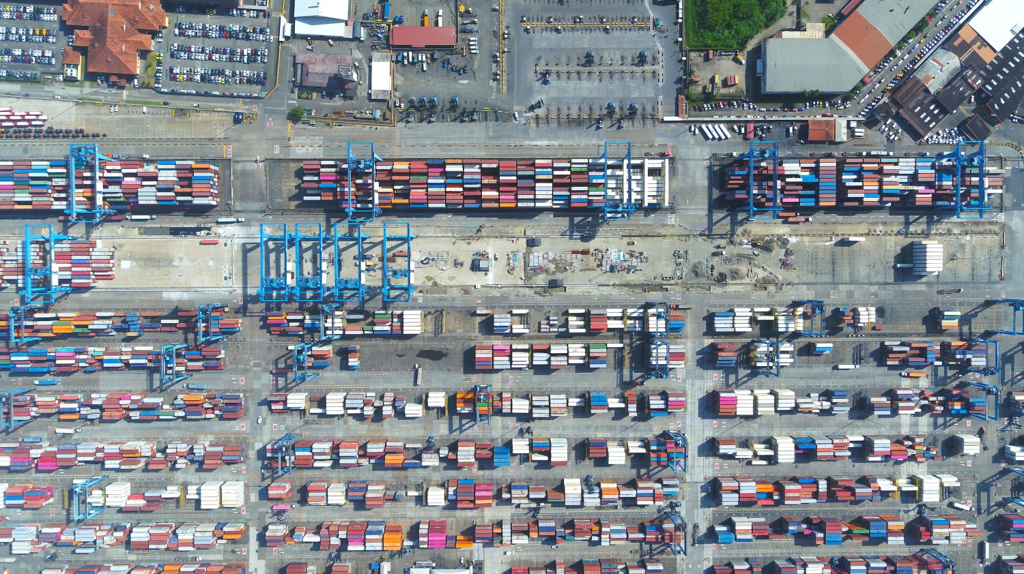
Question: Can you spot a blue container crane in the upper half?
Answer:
Yes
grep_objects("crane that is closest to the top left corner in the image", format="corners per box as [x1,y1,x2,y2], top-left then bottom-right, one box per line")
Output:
[70,141,121,222]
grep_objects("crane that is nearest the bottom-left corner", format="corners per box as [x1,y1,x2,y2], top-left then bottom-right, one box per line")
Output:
[74,473,107,520]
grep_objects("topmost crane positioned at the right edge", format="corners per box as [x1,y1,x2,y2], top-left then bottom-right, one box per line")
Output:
[932,140,989,218]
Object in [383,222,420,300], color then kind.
blue container crane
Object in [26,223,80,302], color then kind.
blue container crane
